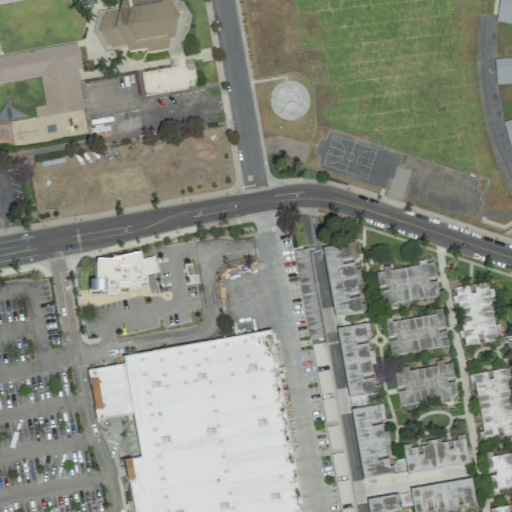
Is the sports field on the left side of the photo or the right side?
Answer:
right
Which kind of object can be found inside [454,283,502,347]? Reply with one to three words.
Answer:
building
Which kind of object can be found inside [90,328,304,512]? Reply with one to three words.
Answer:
warehouse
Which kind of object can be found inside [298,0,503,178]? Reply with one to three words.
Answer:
sports field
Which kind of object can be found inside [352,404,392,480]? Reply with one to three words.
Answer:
building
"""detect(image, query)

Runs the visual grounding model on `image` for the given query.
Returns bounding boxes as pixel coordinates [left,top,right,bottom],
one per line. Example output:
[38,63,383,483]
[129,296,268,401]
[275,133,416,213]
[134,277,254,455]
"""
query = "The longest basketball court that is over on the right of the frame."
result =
[317,129,400,187]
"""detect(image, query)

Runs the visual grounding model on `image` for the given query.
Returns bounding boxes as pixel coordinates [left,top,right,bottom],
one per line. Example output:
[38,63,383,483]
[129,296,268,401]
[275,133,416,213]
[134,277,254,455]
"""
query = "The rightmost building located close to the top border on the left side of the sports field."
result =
[95,0,192,54]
